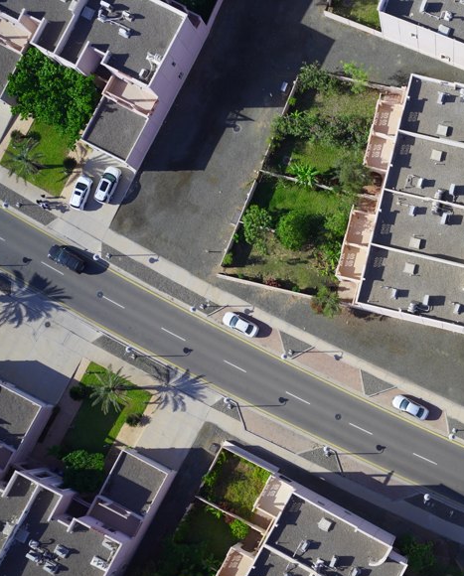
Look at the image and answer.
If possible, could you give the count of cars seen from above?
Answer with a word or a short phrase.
5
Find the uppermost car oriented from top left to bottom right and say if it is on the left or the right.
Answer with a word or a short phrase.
left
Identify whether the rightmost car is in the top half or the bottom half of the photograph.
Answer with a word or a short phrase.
bottom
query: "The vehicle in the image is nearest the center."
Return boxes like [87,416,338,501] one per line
[223,310,260,338]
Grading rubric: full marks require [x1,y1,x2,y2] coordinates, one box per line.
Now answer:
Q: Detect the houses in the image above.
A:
[0,0,210,170]
[334,75,464,332]
[379,0,464,66]
[221,475,412,576]
[0,374,179,576]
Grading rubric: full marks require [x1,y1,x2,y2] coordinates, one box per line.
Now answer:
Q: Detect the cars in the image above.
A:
[69,174,94,210]
[223,310,260,338]
[49,244,90,275]
[391,395,430,420]
[95,166,123,205]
